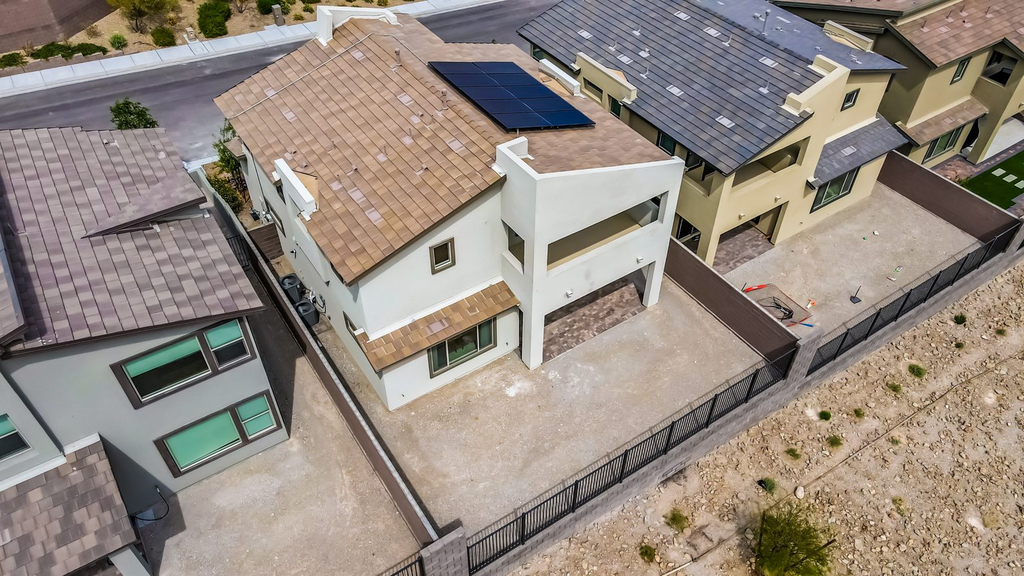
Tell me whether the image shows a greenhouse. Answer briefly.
No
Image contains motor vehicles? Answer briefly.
No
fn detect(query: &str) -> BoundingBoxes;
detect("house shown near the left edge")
[0,126,288,576]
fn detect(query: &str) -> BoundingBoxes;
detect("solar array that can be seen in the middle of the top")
[427,62,595,136]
